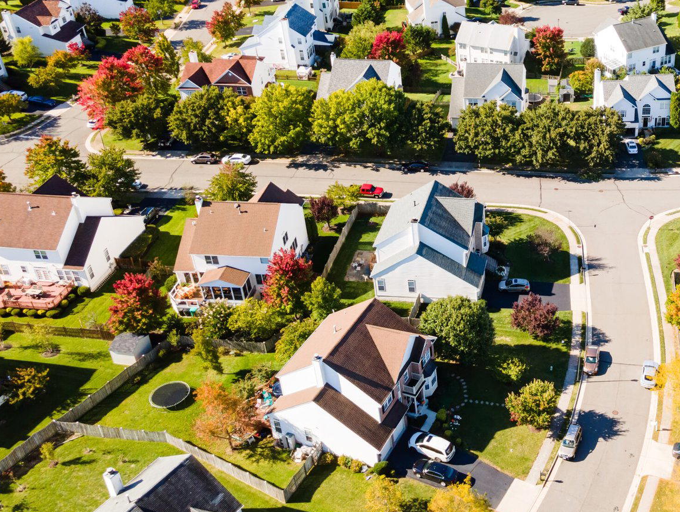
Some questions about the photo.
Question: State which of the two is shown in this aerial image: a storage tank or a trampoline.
trampoline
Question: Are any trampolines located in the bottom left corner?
Yes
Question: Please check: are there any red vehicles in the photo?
Yes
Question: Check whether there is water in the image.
No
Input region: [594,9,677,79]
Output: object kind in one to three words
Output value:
house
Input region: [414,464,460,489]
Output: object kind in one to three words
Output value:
car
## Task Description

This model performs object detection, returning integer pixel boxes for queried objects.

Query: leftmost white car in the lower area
[409,434,453,461]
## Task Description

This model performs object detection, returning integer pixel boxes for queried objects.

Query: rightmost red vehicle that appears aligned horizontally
[352,183,385,199]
